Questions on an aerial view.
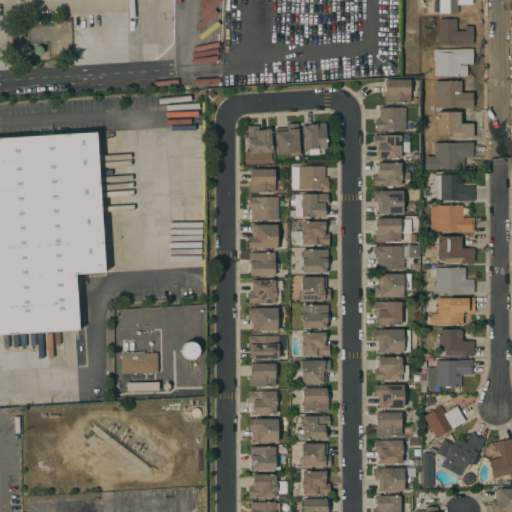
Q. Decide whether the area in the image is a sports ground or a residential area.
residential area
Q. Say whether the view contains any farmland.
No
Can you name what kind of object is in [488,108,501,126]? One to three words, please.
vehicle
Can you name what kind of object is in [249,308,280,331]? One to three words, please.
house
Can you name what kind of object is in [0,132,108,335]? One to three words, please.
building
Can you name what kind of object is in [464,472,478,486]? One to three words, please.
gazebo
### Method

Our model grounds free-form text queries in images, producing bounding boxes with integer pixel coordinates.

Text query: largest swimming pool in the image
[436,470,458,486]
